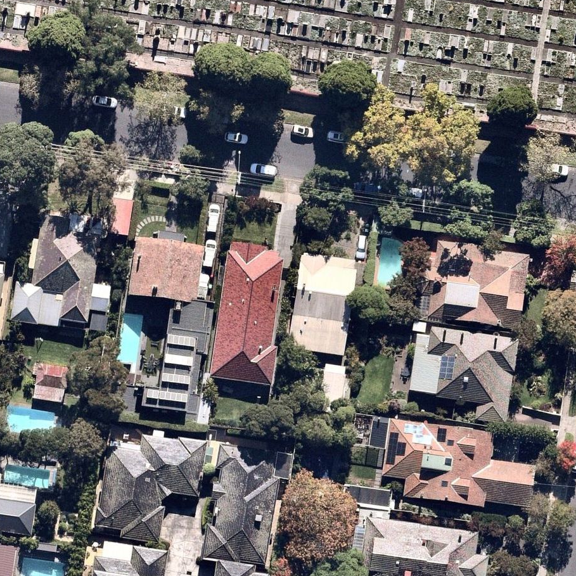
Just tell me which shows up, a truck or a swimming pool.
swimming pool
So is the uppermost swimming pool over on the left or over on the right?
right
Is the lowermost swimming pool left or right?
left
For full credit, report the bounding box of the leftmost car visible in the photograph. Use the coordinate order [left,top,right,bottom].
[91,95,118,108]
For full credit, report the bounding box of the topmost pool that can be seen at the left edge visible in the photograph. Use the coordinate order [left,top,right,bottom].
[8,405,57,433]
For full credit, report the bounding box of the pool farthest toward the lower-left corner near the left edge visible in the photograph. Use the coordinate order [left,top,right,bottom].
[21,556,65,576]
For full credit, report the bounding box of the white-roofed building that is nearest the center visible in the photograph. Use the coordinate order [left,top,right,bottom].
[289,257,357,357]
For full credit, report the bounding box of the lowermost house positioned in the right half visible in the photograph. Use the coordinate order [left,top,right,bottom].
[363,509,492,576]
